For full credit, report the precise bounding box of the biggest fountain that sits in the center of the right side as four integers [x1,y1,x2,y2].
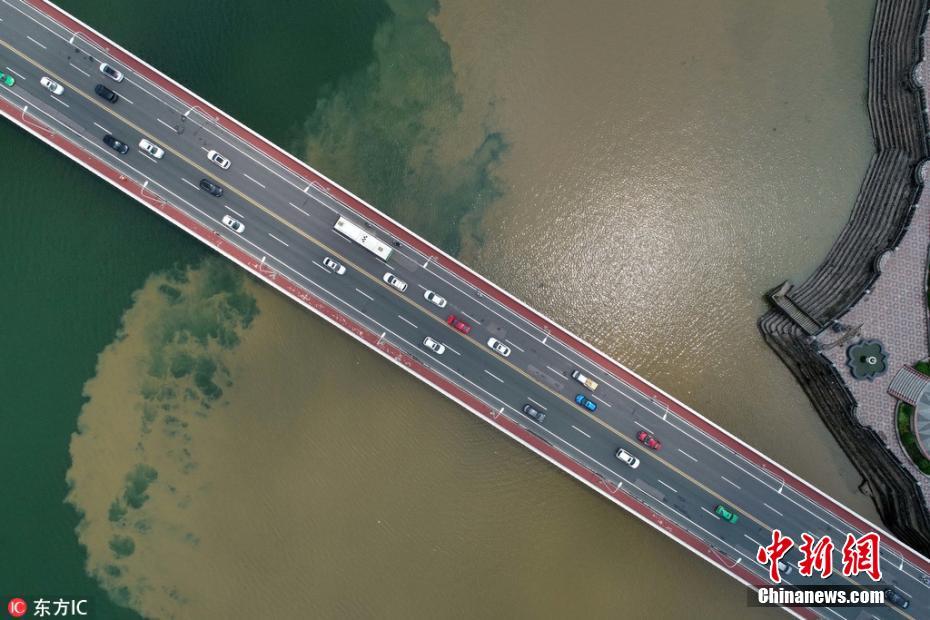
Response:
[848,340,889,379]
